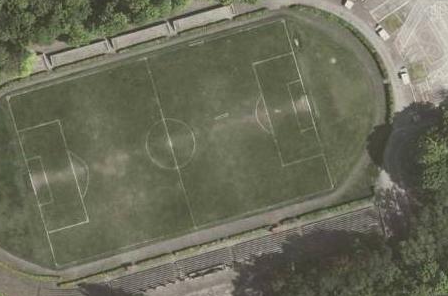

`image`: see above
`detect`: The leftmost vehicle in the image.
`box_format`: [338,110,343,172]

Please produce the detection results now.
[375,26,390,42]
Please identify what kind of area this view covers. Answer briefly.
sports ground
